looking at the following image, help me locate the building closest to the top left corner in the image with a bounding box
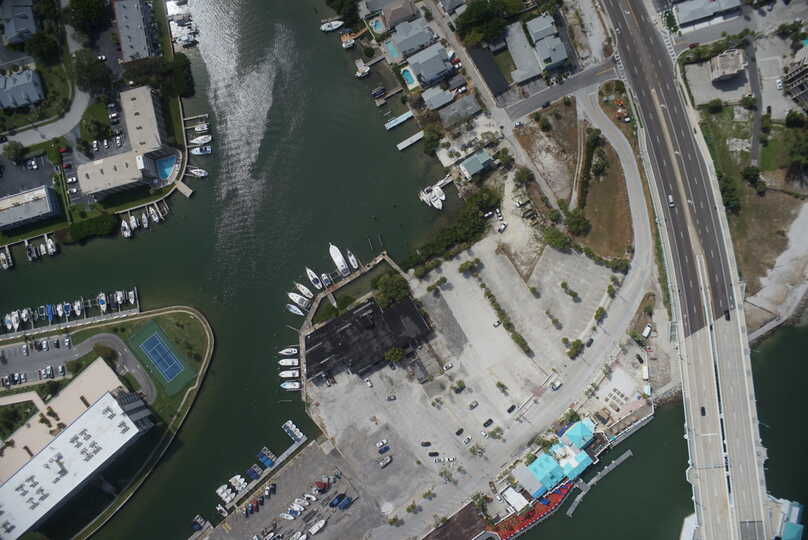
[2,0,41,44]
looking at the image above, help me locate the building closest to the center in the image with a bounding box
[372,298,431,348]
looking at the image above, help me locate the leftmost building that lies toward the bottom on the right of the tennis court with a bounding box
[306,302,389,380]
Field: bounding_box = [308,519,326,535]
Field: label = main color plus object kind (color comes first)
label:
white boat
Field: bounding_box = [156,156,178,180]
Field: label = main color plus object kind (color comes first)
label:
blue swimming pool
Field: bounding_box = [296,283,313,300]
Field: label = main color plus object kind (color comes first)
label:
white boat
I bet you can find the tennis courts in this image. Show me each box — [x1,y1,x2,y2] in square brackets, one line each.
[129,320,196,393]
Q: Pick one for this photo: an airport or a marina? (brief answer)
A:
marina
